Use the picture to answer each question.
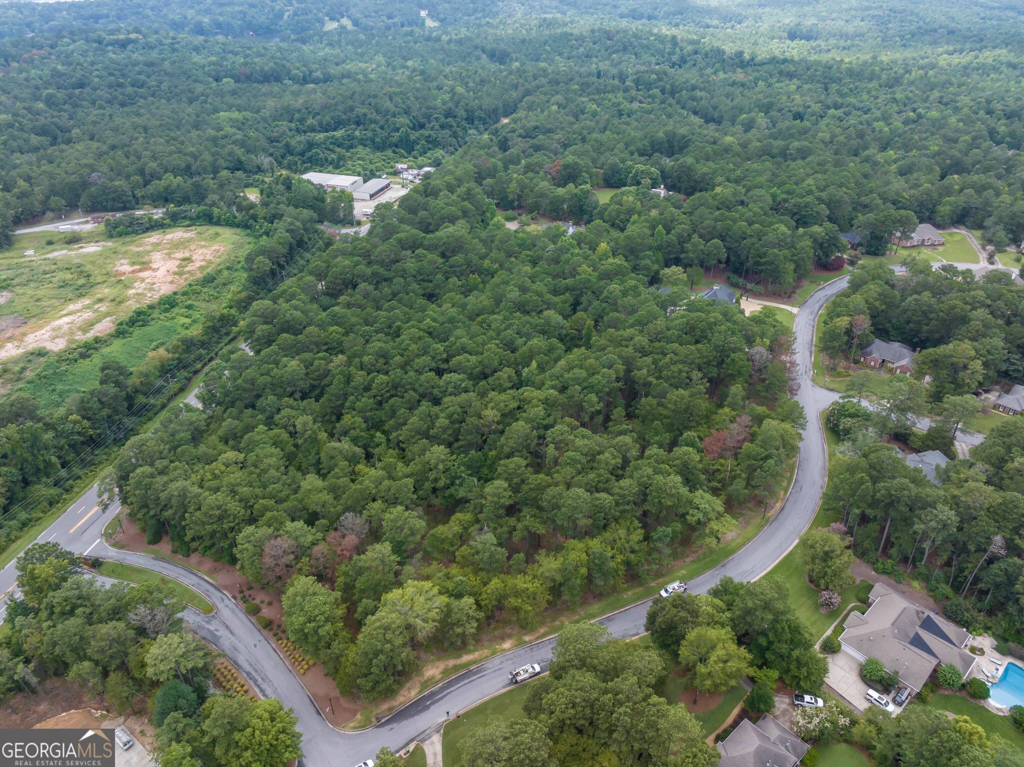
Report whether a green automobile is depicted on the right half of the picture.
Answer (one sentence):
No, there is no green automobile on the right half of the picture.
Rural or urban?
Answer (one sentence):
This place is rural.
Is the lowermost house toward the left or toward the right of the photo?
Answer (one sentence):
The lowermost house sits on the right side.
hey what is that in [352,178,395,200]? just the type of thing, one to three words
building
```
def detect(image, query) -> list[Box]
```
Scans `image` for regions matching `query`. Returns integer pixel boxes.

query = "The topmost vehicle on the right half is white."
[658,577,689,598]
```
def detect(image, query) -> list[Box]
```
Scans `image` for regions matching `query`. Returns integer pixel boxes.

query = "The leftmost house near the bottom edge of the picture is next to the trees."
[712,713,811,767]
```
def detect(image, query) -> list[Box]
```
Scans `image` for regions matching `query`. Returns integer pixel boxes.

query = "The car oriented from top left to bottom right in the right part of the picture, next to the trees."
[862,686,897,714]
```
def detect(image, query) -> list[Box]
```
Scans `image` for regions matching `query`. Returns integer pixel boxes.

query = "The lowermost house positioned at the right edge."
[837,582,977,697]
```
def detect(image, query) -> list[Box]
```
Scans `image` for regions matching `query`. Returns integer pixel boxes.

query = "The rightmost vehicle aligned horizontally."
[792,692,825,708]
